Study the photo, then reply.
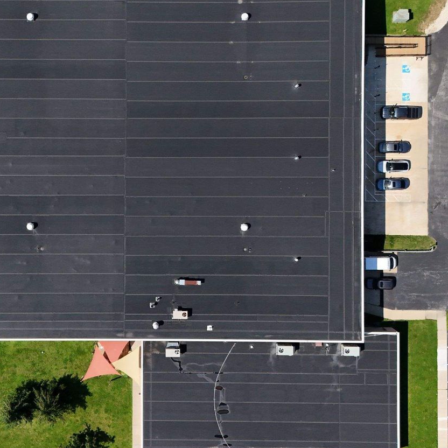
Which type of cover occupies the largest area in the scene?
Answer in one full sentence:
What you mostly see from above here is buildings.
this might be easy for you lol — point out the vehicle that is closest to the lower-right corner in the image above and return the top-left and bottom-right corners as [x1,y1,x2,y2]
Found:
[364,275,397,291]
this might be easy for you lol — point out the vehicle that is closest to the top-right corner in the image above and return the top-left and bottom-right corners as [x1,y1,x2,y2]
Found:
[379,103,424,120]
